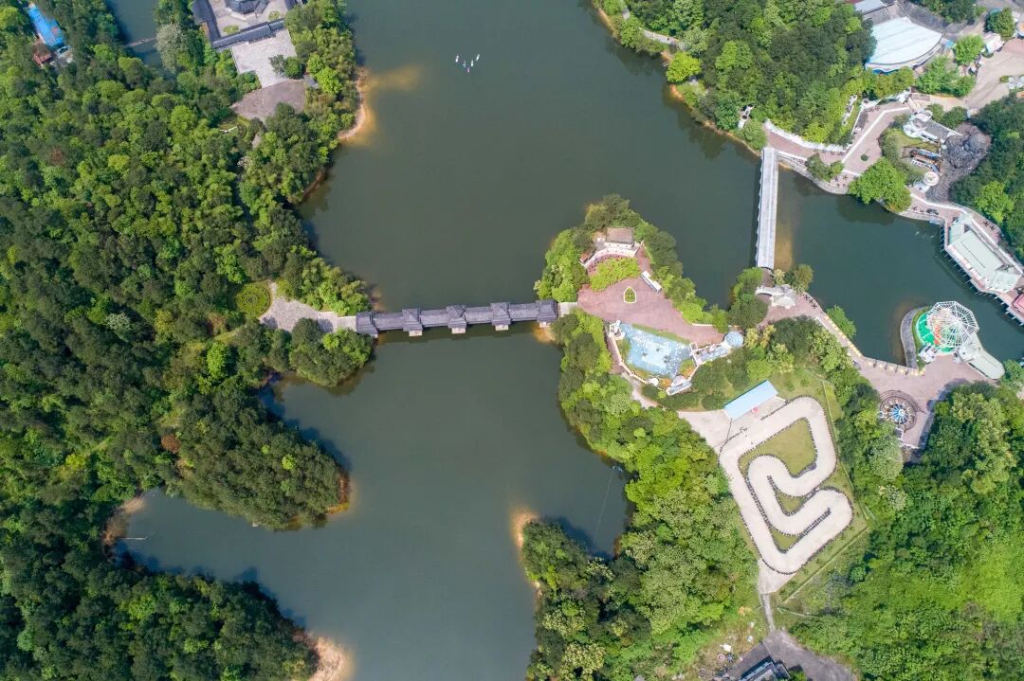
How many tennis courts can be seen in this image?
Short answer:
0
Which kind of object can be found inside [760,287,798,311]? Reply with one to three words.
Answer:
building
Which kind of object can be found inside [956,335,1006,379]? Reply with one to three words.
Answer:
building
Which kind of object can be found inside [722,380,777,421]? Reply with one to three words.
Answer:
shed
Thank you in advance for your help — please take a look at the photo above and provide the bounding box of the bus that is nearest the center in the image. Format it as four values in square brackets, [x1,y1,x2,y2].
[640,272,661,292]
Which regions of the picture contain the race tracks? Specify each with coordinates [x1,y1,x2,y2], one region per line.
[713,393,853,575]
